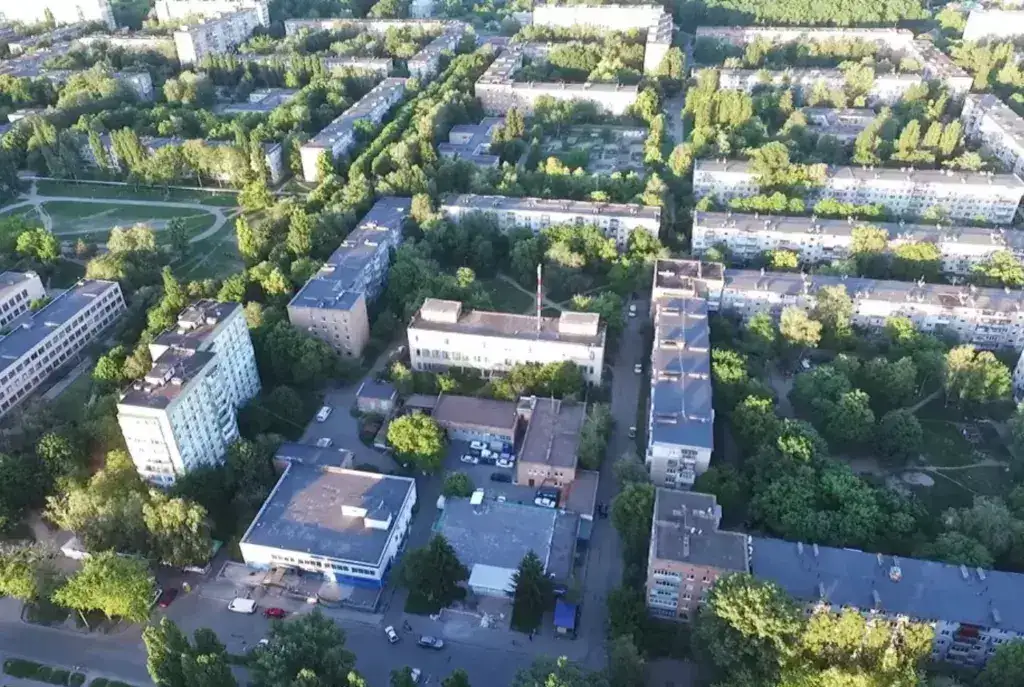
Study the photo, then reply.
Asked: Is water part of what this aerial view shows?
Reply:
No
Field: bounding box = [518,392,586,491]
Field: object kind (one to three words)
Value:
building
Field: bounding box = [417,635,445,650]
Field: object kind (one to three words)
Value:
car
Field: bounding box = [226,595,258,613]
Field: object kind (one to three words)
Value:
vehicle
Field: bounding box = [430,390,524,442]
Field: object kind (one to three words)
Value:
shed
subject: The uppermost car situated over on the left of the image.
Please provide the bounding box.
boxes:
[315,407,333,420]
